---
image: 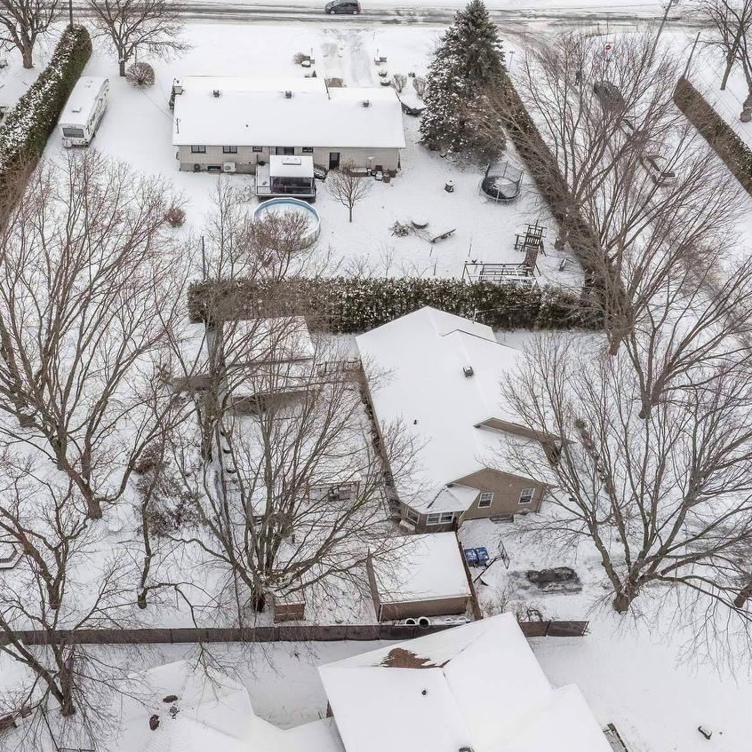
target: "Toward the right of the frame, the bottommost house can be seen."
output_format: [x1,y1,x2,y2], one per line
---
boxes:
[318,614,615,752]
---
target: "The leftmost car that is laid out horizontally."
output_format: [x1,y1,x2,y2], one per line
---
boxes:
[323,0,358,14]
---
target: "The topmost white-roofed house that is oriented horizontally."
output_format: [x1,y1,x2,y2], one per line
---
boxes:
[174,72,407,174]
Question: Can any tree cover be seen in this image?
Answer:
Yes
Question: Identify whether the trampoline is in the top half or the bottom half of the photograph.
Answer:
top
